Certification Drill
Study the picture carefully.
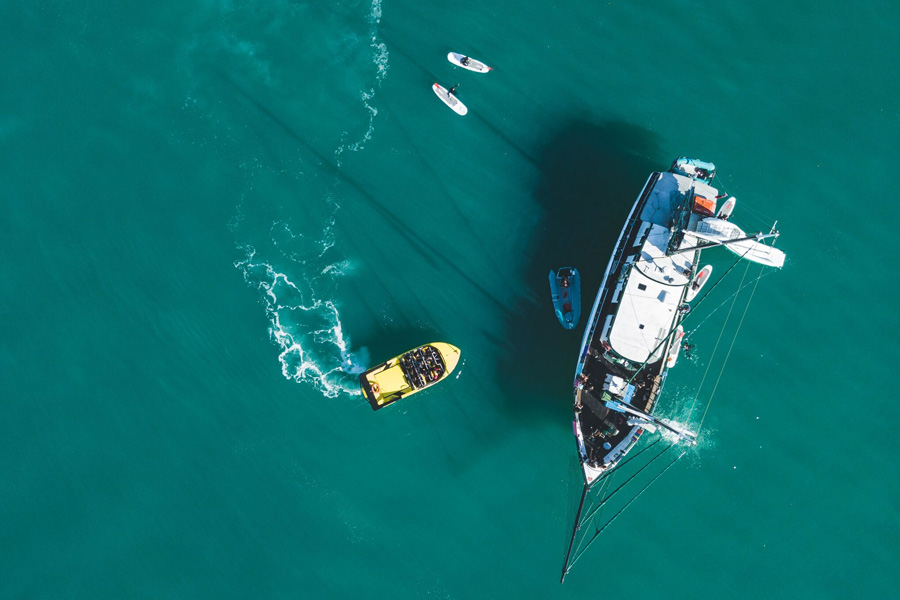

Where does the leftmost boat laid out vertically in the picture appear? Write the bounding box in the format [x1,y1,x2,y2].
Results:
[549,264,581,330]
